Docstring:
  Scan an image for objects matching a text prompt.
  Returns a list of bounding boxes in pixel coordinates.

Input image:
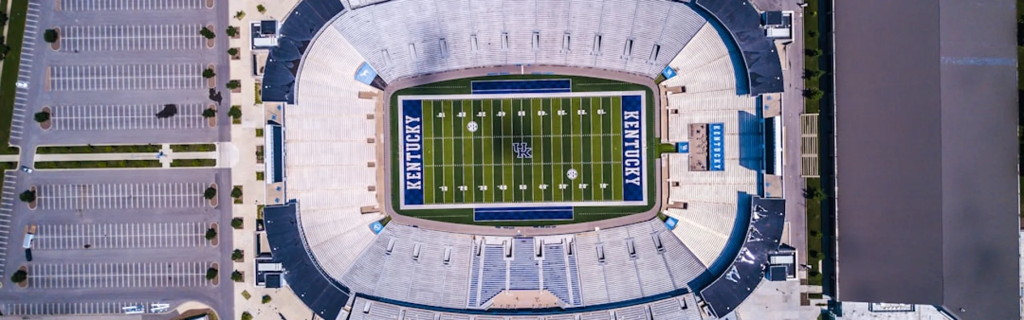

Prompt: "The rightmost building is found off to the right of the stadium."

[824,0,1022,320]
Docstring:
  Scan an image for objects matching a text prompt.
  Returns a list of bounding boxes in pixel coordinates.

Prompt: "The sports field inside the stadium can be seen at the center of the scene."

[389,74,656,225]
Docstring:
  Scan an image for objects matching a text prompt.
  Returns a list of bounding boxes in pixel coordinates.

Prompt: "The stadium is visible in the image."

[251,0,799,320]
